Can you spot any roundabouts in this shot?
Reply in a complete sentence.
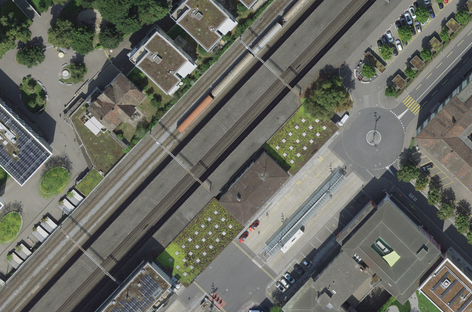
Yes, the image includes a roundabout.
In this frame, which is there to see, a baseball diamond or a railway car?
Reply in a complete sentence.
Of the two, only a railway car appears.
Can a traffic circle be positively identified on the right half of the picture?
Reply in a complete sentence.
Yes, there is a traffic circle on the right half of the picture.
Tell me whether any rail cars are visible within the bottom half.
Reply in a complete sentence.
No, I see no rail car within the bottom half.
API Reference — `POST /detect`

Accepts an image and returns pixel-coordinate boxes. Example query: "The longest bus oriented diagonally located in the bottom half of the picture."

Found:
[282,228,304,252]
